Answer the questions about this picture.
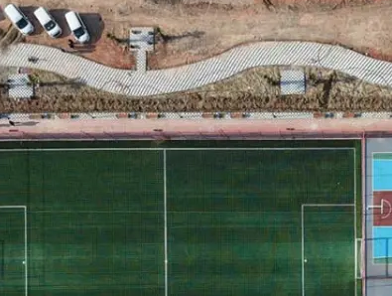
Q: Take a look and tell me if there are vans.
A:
Yes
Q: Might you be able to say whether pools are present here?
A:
No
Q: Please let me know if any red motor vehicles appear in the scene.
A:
No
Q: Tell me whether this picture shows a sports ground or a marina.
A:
sports ground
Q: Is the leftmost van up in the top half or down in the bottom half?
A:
top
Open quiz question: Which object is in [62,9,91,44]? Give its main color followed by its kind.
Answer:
white van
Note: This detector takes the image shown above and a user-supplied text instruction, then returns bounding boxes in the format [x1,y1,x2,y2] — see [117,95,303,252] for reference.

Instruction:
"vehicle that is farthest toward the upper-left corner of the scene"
[2,1,35,35]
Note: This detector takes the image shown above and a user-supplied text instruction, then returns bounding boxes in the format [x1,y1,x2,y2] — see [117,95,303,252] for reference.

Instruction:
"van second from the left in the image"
[31,5,63,38]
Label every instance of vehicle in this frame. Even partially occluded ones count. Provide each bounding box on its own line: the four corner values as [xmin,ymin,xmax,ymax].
[62,9,91,44]
[31,5,63,38]
[2,1,35,35]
